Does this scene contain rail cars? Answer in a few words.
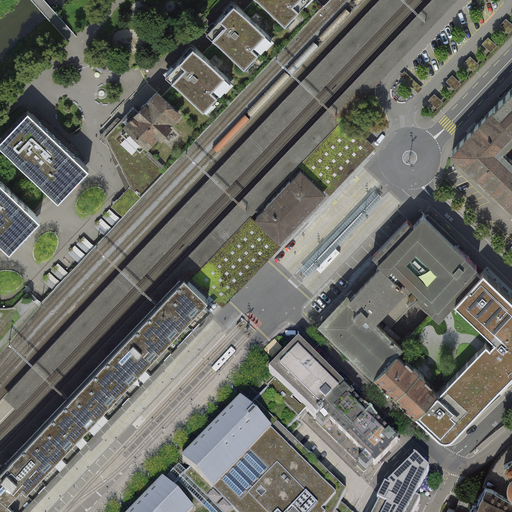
Yes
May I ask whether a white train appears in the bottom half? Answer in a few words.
Yes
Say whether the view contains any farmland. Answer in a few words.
No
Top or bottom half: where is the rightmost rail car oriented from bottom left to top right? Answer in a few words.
top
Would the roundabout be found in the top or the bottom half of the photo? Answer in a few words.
top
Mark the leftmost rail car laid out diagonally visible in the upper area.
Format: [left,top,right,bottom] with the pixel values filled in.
[214,114,250,152]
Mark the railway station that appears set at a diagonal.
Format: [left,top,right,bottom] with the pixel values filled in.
[4,0,454,412]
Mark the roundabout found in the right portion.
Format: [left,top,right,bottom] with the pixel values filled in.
[378,126,442,189]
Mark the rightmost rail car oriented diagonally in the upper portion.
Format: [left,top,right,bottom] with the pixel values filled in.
[318,7,351,42]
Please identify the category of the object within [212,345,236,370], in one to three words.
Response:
train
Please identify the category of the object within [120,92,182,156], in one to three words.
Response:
house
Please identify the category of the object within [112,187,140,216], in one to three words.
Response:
building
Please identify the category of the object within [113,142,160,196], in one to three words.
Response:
building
